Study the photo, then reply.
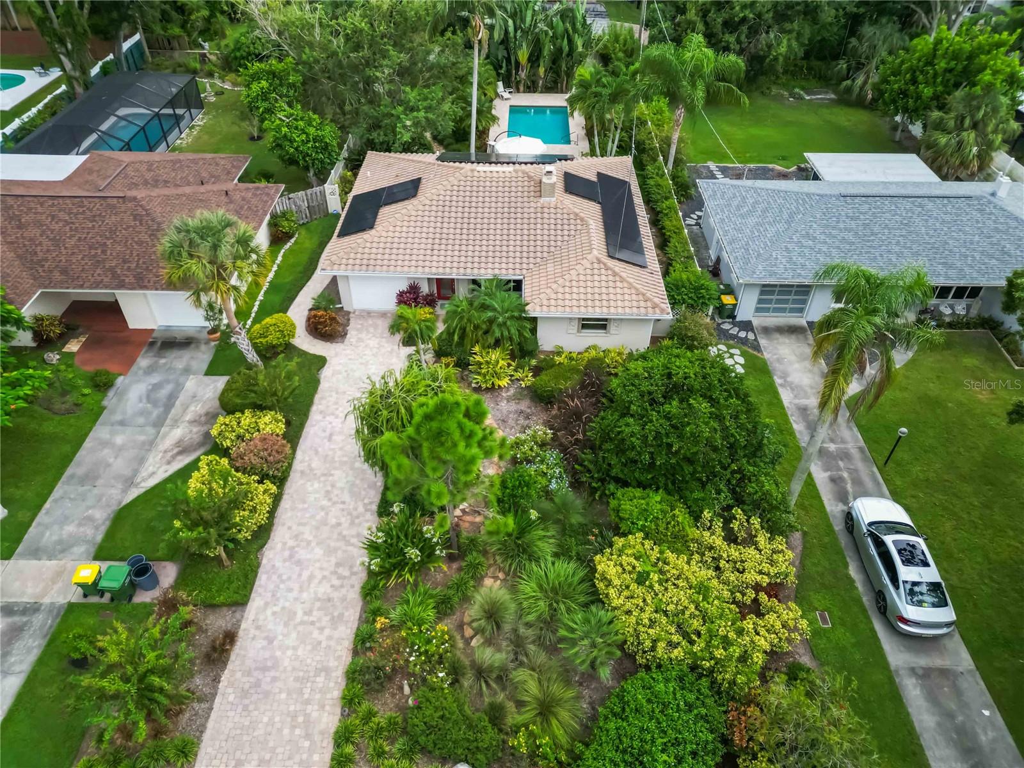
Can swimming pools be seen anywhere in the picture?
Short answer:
Yes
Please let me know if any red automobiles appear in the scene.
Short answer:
No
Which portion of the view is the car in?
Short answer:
bottom right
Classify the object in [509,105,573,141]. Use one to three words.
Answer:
swimming pool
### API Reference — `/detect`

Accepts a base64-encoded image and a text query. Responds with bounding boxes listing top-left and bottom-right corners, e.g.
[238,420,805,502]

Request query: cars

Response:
[844,502,964,641]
